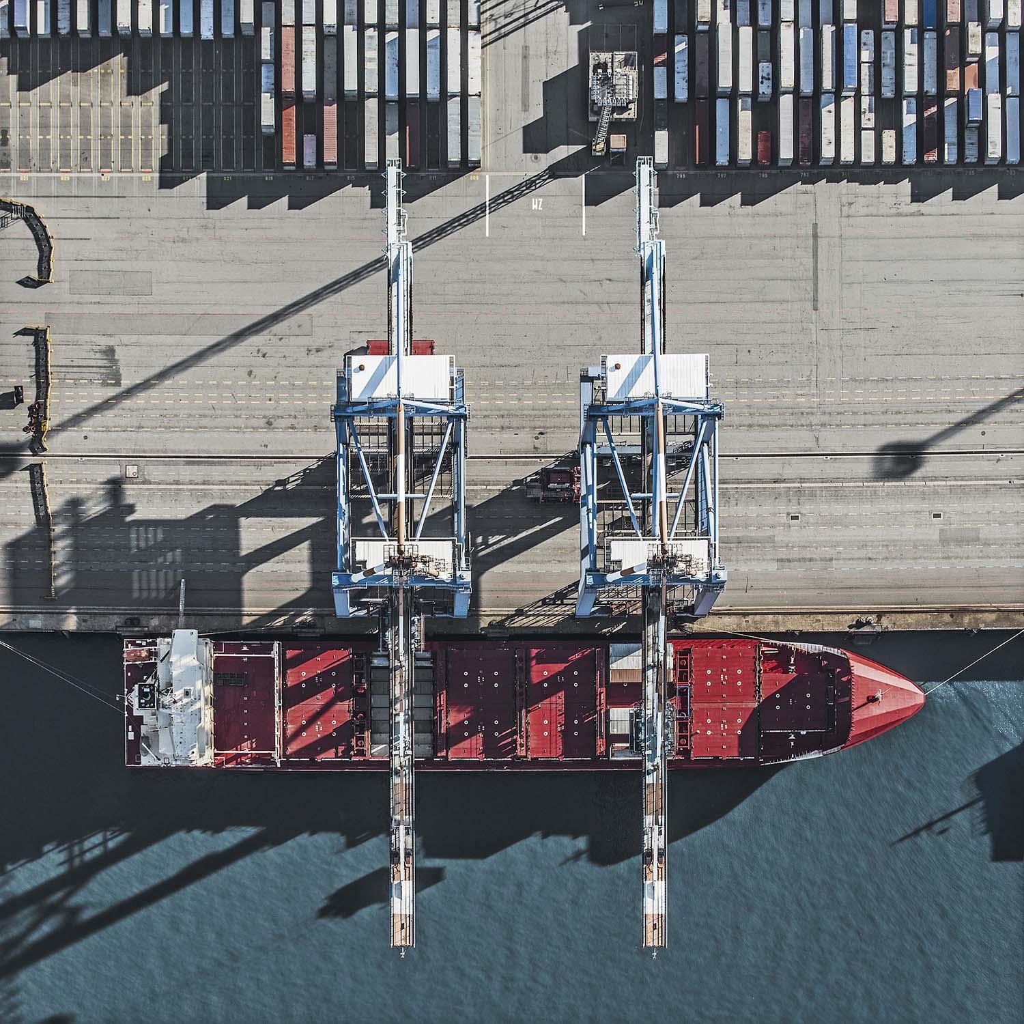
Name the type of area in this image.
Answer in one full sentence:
This looks like a port.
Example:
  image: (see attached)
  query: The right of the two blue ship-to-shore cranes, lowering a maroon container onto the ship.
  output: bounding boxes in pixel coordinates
[575,159,732,958]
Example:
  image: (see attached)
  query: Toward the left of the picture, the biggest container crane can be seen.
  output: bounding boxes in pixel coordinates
[327,159,479,959]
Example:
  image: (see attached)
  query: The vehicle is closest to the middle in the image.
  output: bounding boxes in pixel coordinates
[524,466,576,507]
